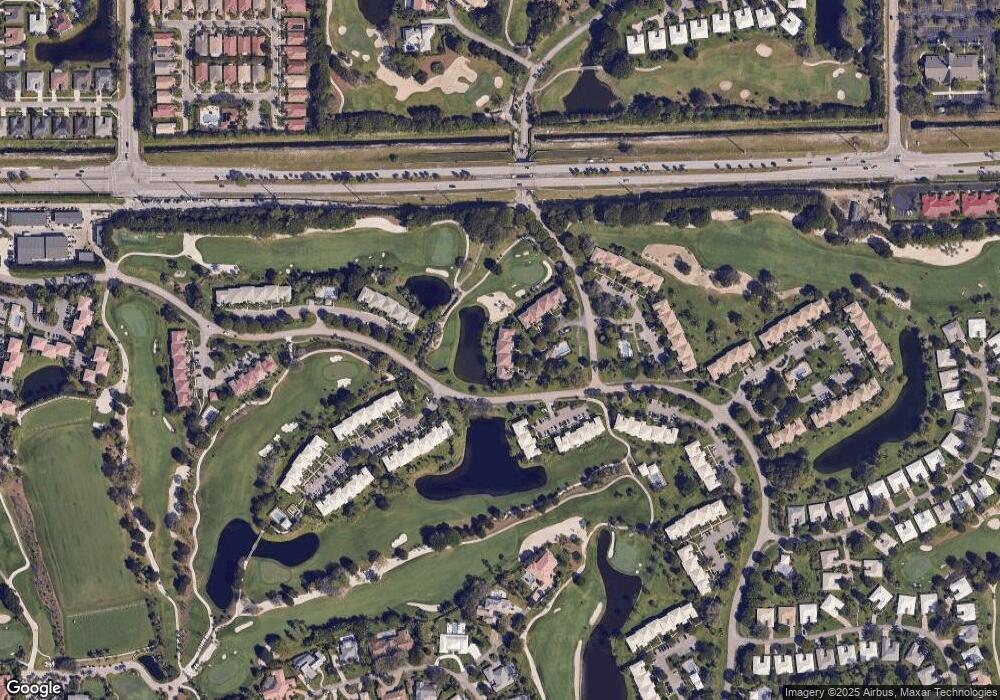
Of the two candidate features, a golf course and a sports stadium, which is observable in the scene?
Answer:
golf course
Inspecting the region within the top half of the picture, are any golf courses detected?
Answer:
Yes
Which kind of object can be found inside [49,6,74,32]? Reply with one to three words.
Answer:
house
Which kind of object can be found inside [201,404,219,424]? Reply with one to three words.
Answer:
swimming pool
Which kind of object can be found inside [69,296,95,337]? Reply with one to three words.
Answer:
building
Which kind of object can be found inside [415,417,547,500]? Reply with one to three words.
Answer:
pond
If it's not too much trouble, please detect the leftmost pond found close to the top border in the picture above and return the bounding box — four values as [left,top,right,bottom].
[36,0,111,62]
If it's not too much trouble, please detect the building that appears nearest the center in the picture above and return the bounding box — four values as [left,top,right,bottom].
[497,328,516,380]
